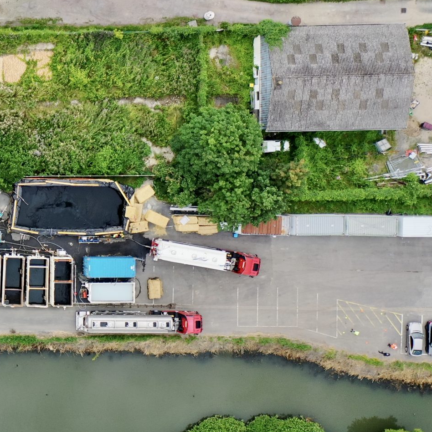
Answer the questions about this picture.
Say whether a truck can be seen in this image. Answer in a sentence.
Yes, a truck can be made out from above.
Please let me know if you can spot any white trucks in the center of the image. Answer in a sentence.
Yes, a white truck appears in the center of the image.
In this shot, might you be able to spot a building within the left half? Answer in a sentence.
No, I see no building within the left half.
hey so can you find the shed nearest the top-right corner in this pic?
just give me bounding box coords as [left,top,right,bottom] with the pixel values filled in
[252,24,415,131]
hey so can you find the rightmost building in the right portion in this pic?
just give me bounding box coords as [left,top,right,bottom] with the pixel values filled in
[398,215,432,237]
